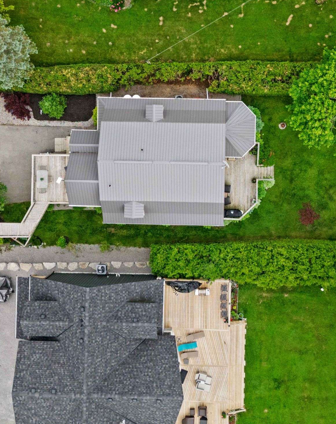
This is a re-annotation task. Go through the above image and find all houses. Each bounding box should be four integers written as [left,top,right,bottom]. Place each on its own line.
[64,96,257,227]
[12,271,183,424]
